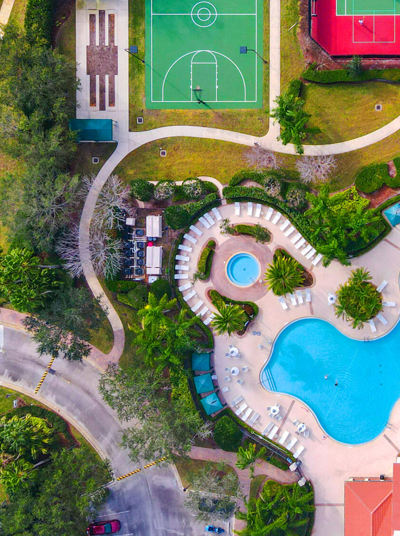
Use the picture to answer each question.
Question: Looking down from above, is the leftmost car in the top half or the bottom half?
bottom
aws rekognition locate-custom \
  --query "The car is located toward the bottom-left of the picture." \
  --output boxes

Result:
[87,516,122,536]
